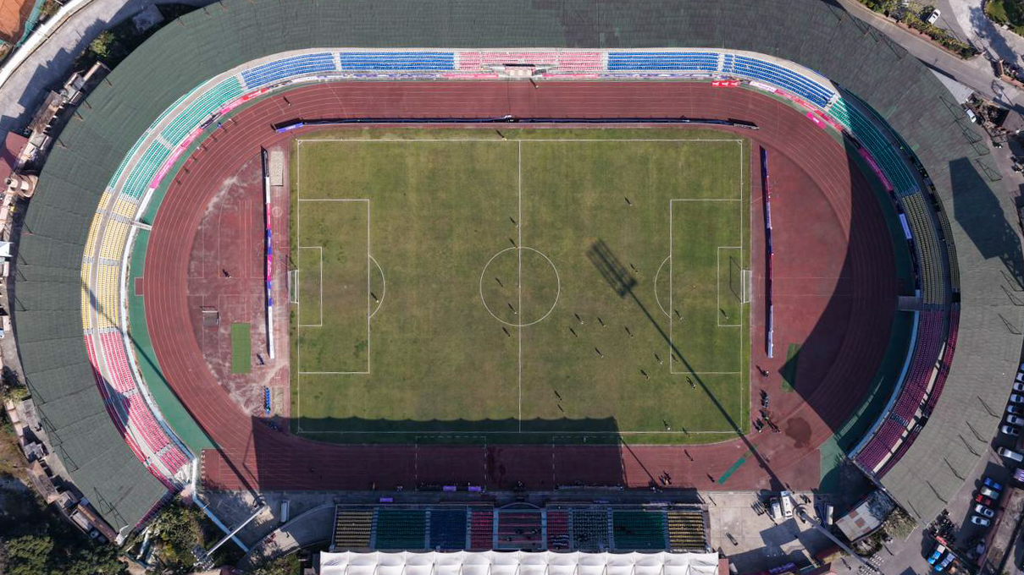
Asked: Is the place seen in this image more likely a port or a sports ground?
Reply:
sports ground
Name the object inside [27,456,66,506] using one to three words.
house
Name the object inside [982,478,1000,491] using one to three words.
vehicle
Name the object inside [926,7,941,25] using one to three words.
car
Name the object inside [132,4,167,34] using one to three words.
building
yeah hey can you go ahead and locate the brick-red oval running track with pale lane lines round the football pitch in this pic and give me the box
[135,80,896,492]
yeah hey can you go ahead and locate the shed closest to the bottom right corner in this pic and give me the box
[835,488,890,542]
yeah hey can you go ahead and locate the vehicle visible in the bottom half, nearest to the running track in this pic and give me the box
[780,491,795,521]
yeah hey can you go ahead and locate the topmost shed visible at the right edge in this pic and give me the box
[932,71,975,103]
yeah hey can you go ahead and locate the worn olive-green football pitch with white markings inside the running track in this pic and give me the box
[291,128,751,444]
